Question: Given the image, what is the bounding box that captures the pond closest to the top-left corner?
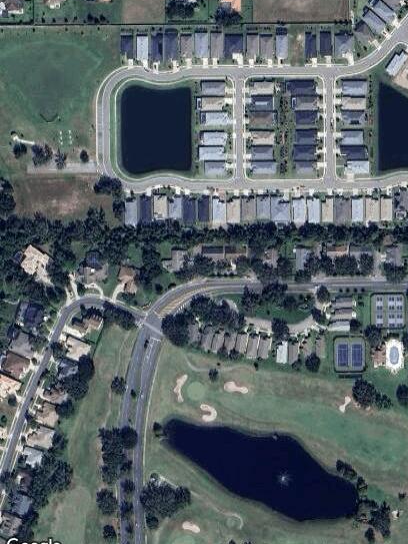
[121,87,191,173]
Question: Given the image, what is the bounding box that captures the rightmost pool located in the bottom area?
[386,338,403,373]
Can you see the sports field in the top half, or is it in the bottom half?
top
